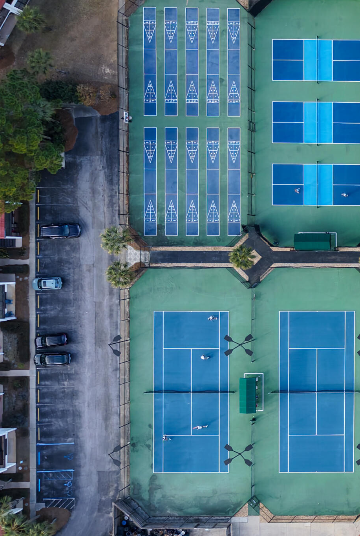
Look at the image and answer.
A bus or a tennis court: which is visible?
tennis court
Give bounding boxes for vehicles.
[32,276,64,291]
[35,351,74,367]
[35,331,71,349]
[41,222,83,238]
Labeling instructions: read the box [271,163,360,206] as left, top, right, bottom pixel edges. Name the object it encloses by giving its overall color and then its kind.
blue sports court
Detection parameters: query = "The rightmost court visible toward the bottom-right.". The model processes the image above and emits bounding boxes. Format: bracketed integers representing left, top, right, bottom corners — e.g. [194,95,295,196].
[254,268,360,515]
